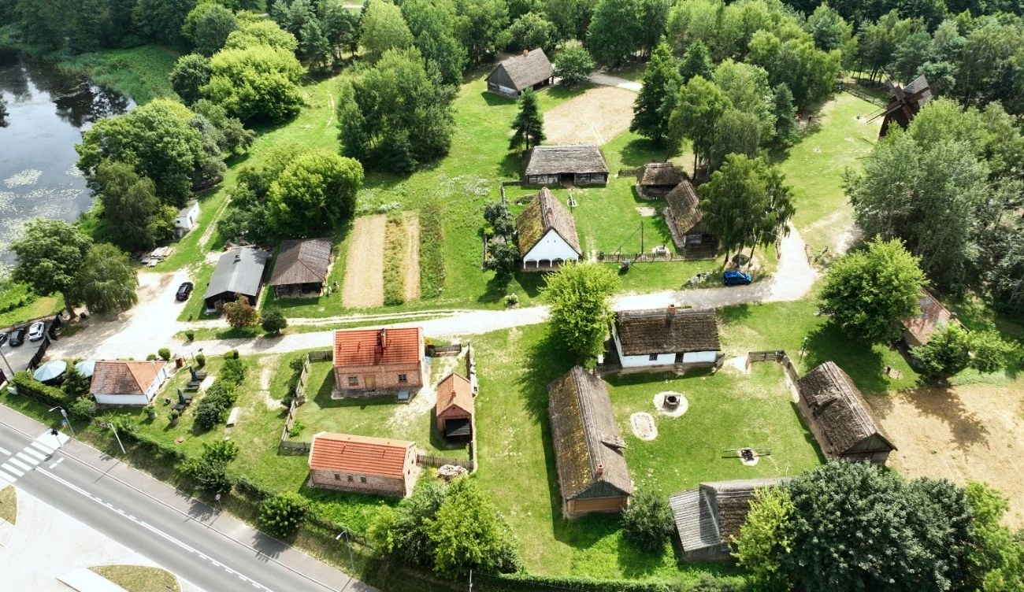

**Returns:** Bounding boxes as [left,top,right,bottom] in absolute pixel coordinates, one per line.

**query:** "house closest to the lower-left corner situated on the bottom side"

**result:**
[90,353,168,406]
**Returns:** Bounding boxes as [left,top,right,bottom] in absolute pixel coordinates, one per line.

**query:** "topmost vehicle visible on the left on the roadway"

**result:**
[172,282,195,300]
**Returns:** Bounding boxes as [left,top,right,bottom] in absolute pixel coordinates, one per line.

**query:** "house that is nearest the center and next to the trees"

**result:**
[516,187,580,271]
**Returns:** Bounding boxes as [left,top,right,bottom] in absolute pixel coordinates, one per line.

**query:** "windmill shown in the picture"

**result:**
[861,54,960,139]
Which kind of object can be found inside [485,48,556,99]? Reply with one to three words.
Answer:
barn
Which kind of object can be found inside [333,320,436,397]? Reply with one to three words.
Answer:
house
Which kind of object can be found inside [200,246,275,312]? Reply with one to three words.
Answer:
shed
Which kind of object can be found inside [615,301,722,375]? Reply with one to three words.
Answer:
house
